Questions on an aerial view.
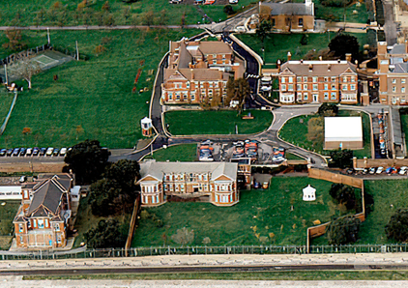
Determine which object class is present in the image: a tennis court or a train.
tennis court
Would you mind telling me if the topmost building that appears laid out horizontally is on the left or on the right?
right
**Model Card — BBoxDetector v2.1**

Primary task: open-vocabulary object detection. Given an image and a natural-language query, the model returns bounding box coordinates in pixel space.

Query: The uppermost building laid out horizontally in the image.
[249,0,330,31]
